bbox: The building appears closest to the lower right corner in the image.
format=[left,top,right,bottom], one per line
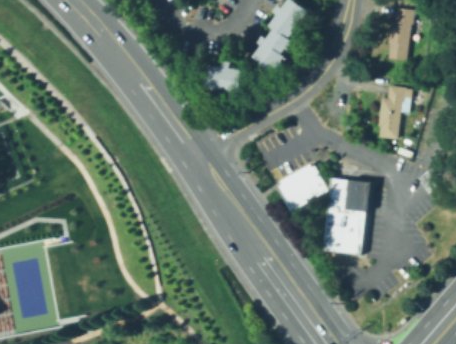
[324,178,370,255]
